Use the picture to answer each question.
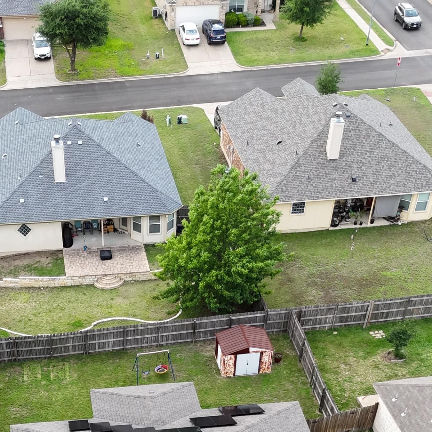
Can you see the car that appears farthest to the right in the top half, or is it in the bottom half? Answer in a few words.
top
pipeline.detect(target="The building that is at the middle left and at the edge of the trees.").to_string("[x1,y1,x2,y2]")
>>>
[0,107,183,257]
